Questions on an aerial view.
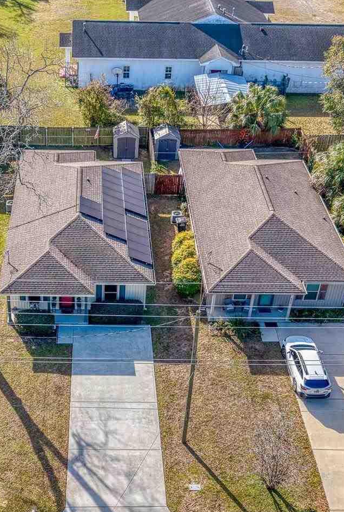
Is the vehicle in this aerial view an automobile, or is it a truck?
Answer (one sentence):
In the photo, the vehicle shows up as an automobile.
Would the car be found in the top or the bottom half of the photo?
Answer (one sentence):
The car sits in the bottom half of the picture.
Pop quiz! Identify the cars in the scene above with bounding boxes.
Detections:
[286,339,335,399]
